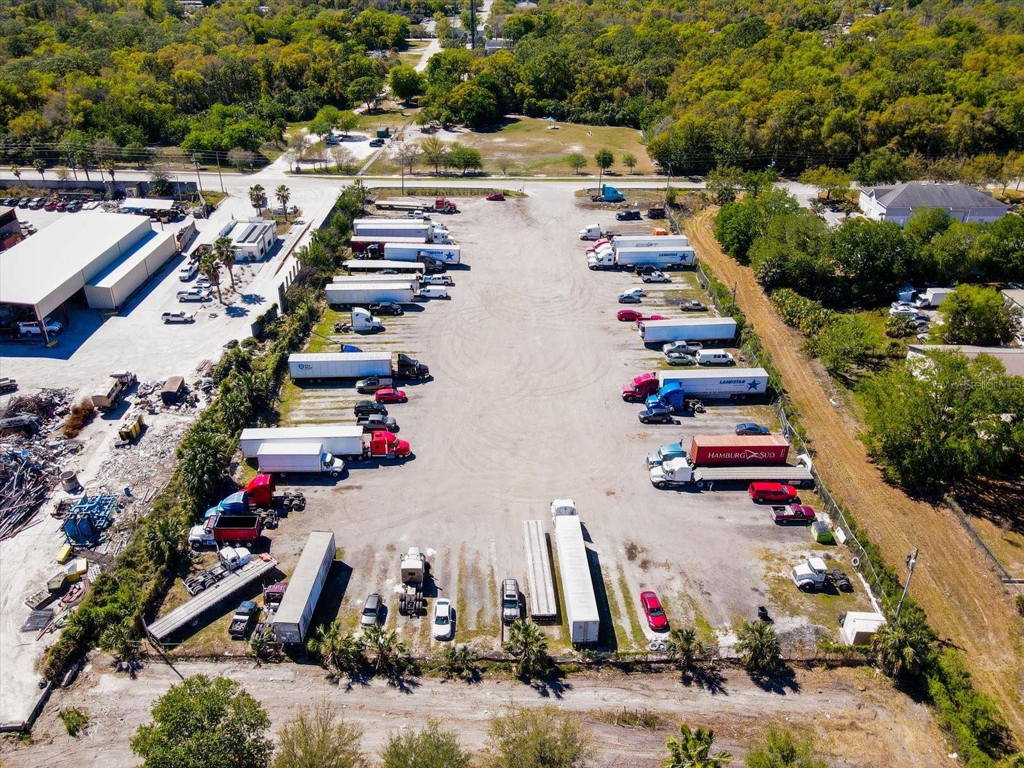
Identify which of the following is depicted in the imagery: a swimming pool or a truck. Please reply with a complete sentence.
There is a truck in the scene.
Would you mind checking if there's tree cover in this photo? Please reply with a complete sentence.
Yes, tree cover shows up in the scene.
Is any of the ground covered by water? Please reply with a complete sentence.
No, the picture contains no water.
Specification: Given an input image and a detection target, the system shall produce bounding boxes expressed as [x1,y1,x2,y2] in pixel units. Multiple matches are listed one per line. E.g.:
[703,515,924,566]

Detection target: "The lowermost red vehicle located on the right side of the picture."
[641,585,668,627]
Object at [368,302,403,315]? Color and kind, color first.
black vehicle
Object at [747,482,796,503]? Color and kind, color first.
red car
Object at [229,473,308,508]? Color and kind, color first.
red truck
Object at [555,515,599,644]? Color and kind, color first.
white trailer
